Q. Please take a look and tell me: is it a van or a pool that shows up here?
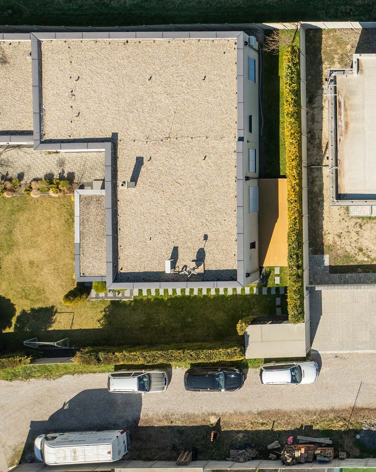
van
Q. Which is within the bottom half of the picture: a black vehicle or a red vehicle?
black vehicle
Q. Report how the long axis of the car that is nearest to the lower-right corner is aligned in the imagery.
horizontally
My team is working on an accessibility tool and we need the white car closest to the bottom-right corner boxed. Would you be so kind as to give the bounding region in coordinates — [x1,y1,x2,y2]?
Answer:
[258,359,319,389]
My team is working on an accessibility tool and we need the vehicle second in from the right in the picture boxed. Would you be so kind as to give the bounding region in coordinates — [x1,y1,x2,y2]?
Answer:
[183,366,245,396]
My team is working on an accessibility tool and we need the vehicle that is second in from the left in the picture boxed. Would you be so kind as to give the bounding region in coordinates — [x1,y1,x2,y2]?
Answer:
[105,369,170,398]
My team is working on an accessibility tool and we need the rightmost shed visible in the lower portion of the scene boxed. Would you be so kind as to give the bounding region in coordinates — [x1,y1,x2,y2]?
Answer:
[245,319,306,360]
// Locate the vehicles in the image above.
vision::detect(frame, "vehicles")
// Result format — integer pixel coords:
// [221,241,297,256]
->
[105,369,170,398]
[258,359,319,389]
[36,428,130,469]
[183,366,245,396]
